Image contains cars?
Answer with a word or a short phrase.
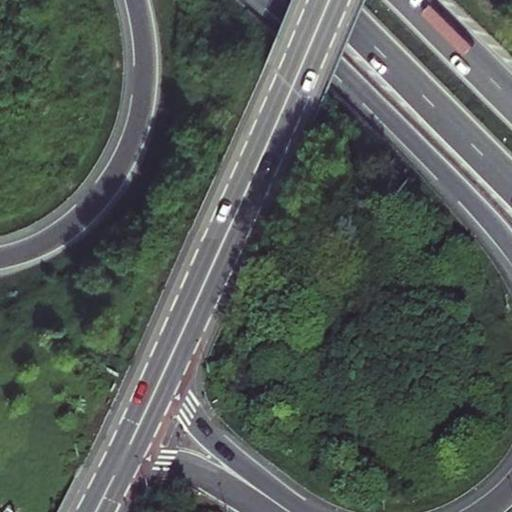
Yes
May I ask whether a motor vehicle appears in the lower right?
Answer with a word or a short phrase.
No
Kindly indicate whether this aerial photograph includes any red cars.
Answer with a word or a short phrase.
Yes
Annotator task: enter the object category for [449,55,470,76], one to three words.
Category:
car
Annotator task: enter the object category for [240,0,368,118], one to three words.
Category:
overpass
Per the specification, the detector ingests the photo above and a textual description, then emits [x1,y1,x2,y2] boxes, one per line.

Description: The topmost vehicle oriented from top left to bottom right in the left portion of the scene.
[196,416,214,437]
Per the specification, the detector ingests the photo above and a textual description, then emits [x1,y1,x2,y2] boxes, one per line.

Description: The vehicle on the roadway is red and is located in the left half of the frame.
[132,380,148,404]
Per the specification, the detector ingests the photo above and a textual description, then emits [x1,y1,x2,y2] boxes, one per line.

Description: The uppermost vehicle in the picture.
[410,0,473,54]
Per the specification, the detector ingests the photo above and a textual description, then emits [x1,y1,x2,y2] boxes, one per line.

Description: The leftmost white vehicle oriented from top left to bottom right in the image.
[368,54,388,74]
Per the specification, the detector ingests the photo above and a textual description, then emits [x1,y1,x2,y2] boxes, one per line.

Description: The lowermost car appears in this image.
[215,441,236,462]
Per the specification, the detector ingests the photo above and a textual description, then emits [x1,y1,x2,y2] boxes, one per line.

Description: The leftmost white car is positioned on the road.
[216,200,232,223]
